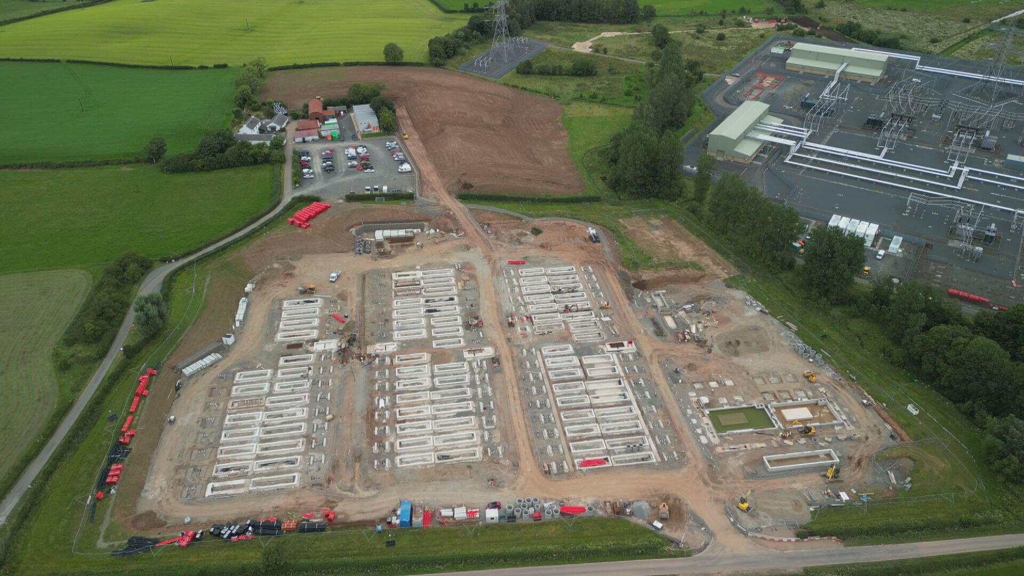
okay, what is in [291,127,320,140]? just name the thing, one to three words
shed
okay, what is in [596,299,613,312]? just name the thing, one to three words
vehicle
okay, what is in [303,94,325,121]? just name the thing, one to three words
barn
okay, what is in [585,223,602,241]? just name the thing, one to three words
work vehicle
